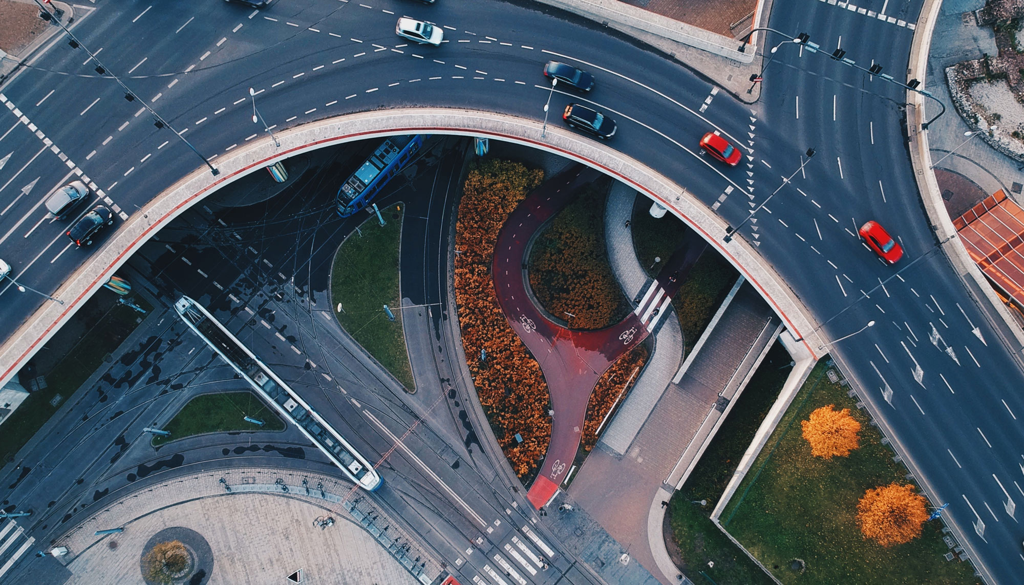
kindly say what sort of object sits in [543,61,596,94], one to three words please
car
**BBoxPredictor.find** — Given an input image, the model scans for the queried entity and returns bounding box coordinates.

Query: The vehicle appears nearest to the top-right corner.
[856,220,905,266]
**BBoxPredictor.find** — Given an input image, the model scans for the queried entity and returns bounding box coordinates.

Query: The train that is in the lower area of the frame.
[171,294,389,492]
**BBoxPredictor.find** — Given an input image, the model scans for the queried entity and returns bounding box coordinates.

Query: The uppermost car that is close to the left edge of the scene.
[42,178,92,219]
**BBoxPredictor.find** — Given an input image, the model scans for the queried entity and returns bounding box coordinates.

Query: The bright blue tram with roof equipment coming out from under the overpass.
[330,137,431,218]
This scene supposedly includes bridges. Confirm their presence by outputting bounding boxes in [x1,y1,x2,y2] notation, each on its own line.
[0,30,833,396]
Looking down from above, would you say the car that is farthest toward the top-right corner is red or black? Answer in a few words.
red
